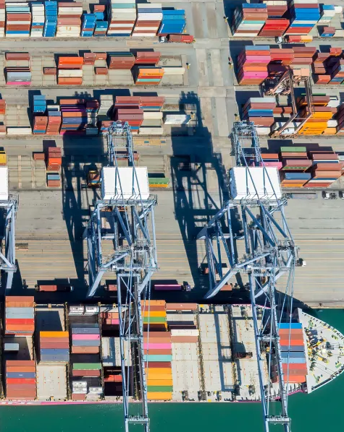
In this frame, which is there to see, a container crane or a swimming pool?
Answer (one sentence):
Visible in the photo is a container crane.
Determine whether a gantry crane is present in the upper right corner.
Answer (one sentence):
Yes, a gantry crane appears in the upper right corner.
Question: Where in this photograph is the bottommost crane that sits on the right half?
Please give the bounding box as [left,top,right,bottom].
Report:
[192,115,295,432]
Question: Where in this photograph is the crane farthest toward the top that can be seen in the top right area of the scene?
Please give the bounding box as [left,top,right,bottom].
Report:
[263,67,315,140]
